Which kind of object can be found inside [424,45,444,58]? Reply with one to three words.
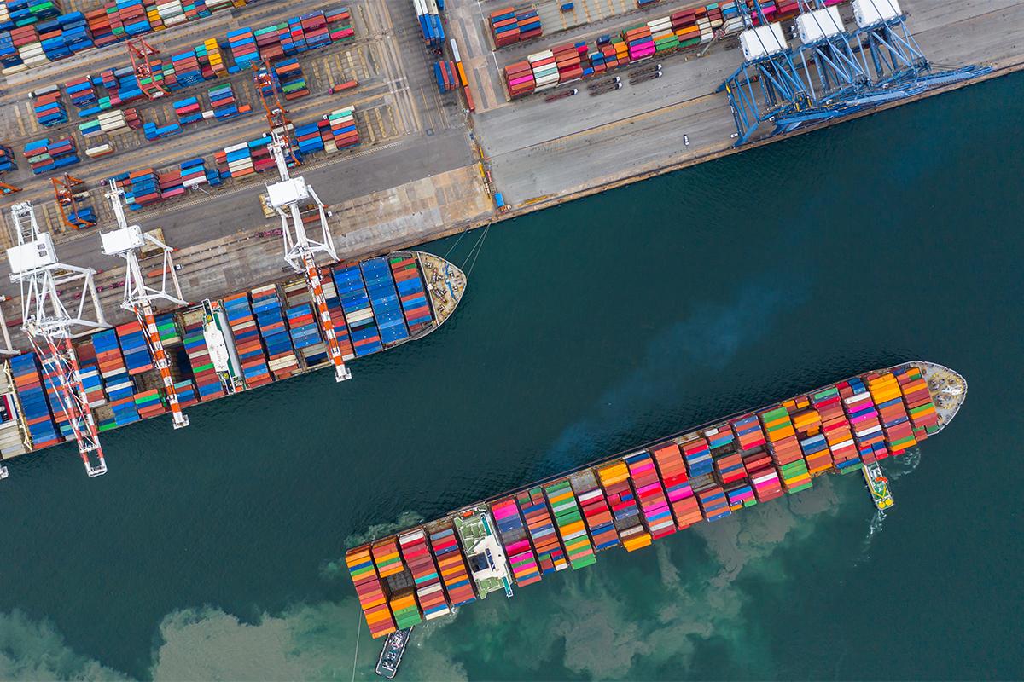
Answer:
vehicle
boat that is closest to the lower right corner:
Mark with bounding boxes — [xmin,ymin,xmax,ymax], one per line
[866,461,896,514]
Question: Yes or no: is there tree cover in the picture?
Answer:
No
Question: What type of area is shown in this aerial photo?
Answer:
port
